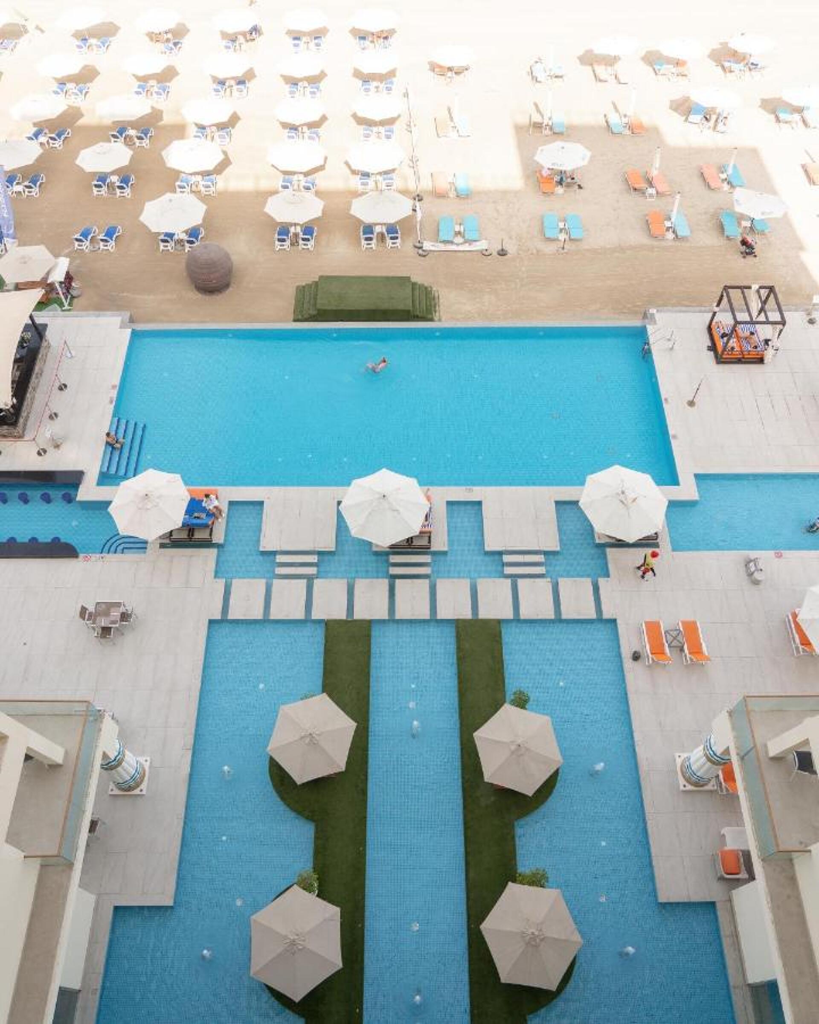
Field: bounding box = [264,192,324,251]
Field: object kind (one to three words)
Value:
umbrella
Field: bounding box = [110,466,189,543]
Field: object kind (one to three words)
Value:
umbrella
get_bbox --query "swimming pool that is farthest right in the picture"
[660,474,819,551]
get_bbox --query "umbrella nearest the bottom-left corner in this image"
[247,887,344,1004]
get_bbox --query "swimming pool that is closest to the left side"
[0,471,151,554]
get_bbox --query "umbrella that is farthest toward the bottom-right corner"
[478,887,584,990]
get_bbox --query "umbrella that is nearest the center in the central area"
[339,468,429,546]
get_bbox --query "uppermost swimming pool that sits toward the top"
[99,328,678,487]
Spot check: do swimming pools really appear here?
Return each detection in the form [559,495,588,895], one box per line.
[99,328,678,487]
[660,474,819,551]
[0,471,151,554]
[98,501,734,1024]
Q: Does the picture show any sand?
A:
Yes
